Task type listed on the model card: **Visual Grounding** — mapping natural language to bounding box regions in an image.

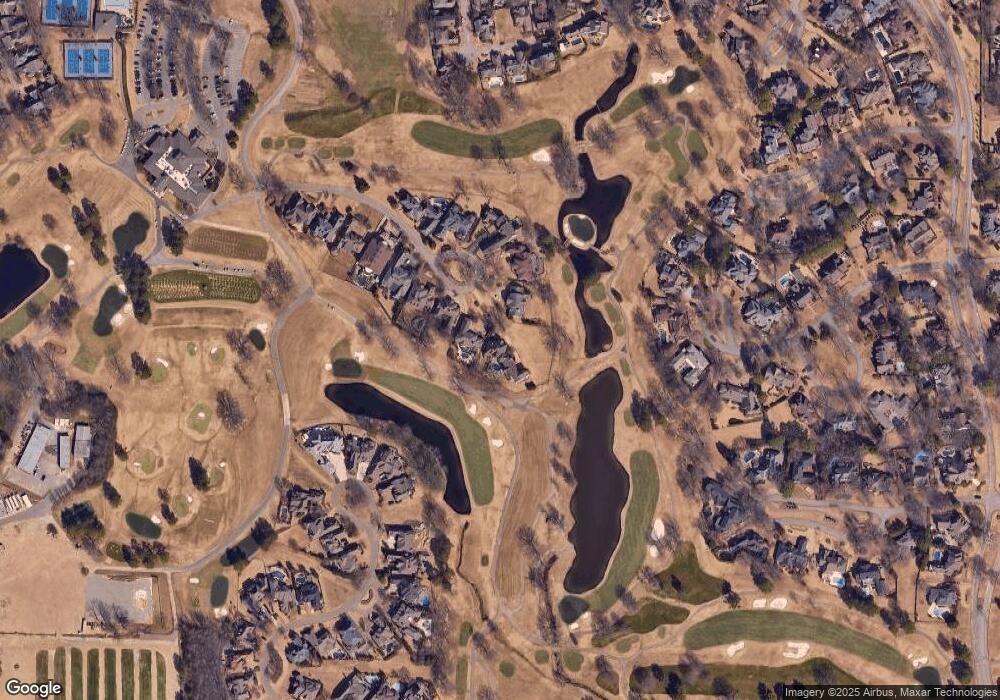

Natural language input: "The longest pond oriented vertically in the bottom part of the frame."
[564,367,630,594]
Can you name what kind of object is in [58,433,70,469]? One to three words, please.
shed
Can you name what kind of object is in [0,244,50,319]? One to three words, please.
pond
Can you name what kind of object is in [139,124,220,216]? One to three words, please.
building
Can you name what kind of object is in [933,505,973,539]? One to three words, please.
house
